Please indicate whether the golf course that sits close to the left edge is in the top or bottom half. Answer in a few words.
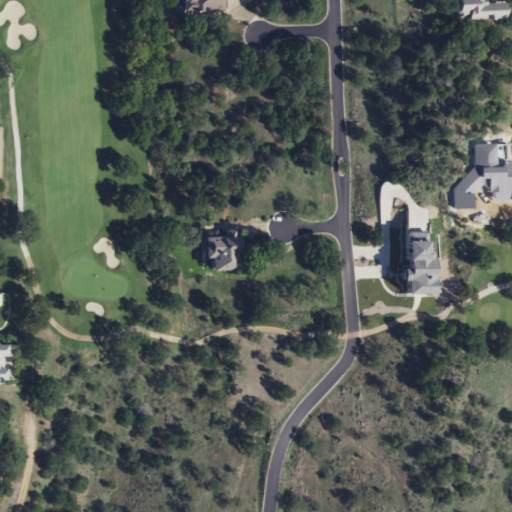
top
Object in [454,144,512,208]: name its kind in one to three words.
house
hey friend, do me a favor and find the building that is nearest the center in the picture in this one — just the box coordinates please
[208,230,238,271]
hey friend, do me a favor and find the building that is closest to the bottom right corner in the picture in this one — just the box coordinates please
[408,232,442,296]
